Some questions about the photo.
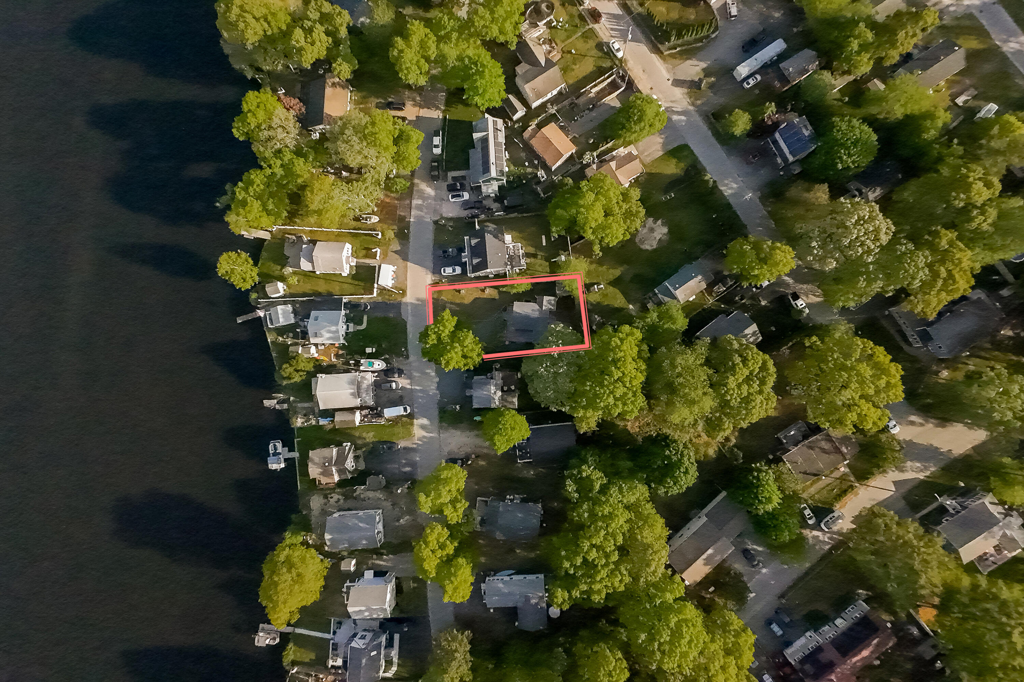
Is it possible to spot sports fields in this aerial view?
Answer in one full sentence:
No, there appears to be no sports field in this shot.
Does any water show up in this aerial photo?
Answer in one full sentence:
Yes, there's water in this view.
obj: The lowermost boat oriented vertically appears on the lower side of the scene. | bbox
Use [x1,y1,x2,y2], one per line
[269,440,283,472]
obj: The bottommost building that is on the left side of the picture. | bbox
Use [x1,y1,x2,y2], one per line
[327,618,400,682]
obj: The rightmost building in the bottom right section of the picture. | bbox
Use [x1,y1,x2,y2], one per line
[924,492,1024,573]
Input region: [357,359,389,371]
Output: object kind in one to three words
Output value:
boat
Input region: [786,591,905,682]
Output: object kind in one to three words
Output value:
house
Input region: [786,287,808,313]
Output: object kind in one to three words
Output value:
truck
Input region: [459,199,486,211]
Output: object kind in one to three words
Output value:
vehicle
